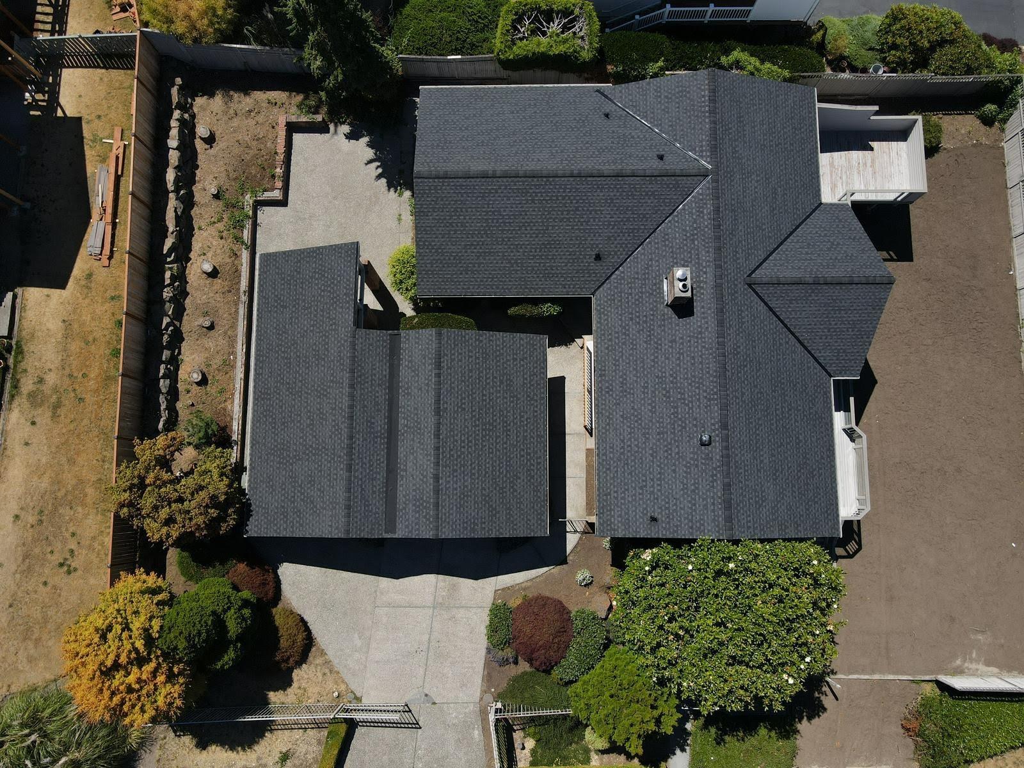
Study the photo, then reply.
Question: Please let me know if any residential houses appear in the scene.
Yes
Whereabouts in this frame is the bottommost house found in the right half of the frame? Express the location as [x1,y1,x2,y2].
[411,63,895,541]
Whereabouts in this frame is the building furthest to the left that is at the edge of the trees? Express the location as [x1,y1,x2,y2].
[241,242,550,540]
